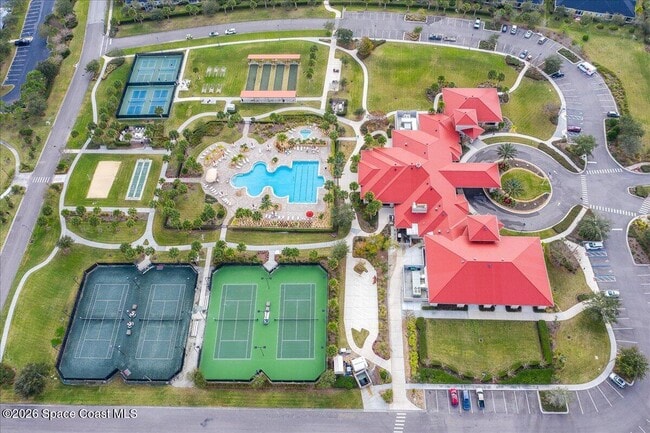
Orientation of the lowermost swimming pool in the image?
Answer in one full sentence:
From this overhead view, the lowermost swimming pool appears to run from side to side.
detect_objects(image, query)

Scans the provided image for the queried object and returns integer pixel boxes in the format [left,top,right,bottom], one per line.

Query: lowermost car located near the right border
[607,373,627,389]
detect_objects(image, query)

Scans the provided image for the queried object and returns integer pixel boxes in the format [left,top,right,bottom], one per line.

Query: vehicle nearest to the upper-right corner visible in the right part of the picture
[576,62,596,74]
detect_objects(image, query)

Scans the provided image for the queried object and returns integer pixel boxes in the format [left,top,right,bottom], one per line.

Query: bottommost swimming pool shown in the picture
[229,160,326,203]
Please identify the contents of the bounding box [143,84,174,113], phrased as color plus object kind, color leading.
blue sports court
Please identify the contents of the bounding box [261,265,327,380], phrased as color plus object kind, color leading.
green tennis court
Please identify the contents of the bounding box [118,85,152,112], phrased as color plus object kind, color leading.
blue sports court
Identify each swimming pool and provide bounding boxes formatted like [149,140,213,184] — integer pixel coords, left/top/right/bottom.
[229,160,326,203]
[299,129,313,138]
